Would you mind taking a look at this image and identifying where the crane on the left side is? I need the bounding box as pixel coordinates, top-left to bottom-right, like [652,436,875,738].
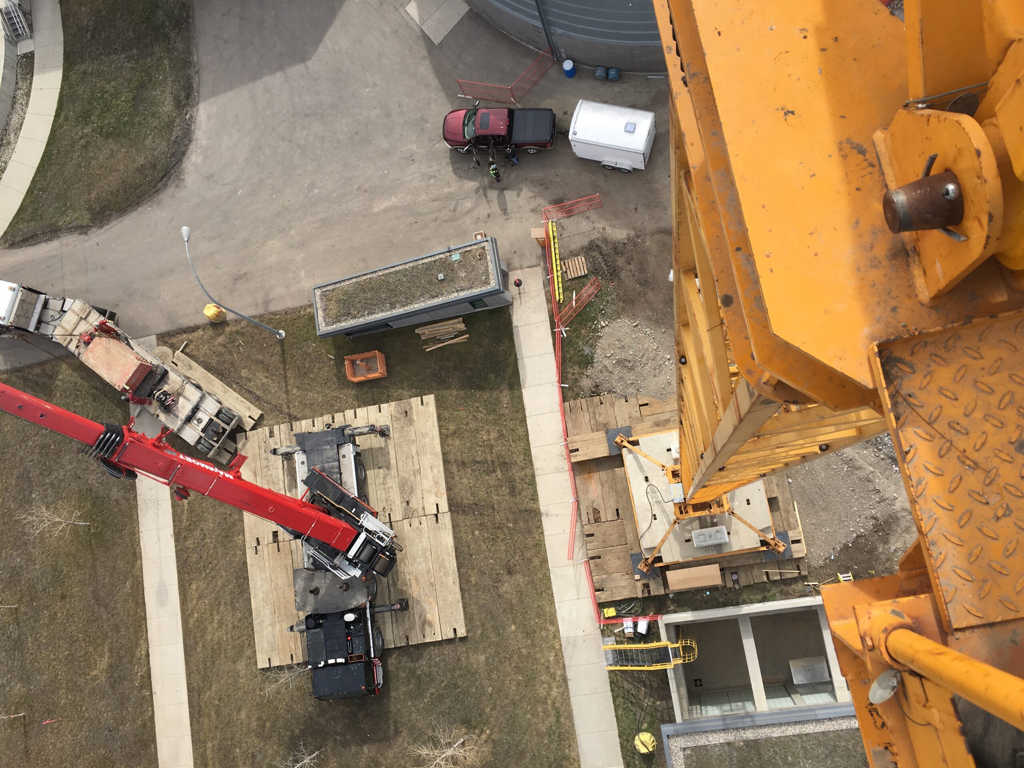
[0,369,411,705]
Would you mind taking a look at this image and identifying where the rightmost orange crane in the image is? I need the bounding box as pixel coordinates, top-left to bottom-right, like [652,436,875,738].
[613,0,1024,768]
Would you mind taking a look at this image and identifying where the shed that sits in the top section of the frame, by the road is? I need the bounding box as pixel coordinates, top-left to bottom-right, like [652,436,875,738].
[312,237,514,339]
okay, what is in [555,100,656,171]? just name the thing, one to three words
trailer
